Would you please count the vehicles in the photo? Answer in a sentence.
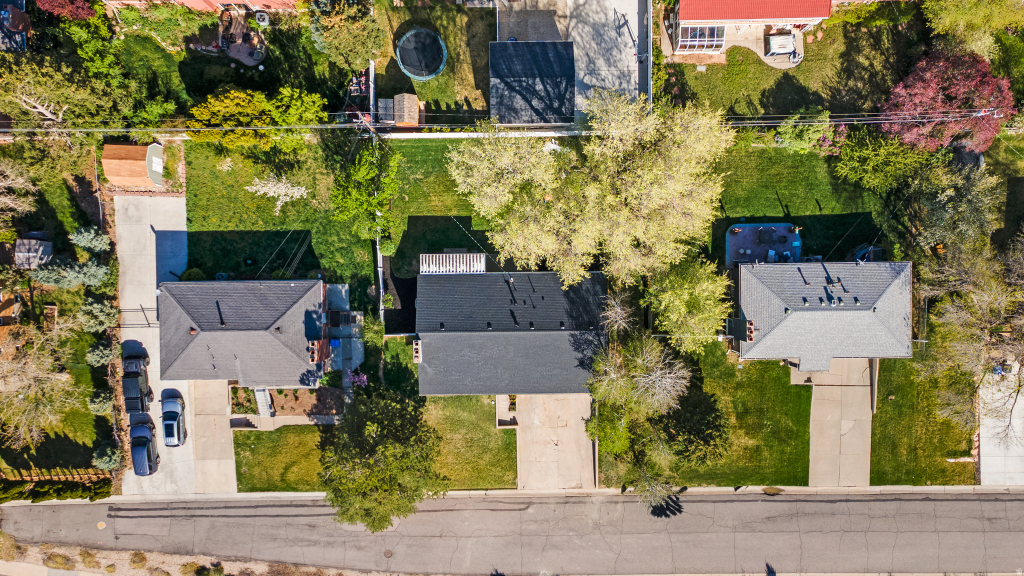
I count 3 vehicles.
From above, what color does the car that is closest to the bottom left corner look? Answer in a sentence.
From above, the car that is closest to the bottom left corner appears blue.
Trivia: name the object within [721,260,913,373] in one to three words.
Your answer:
house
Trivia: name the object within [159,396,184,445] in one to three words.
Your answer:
car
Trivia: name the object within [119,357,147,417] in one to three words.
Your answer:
truck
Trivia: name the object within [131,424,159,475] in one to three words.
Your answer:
car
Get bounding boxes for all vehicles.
[159,396,184,445]
[131,424,159,475]
[119,357,147,417]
